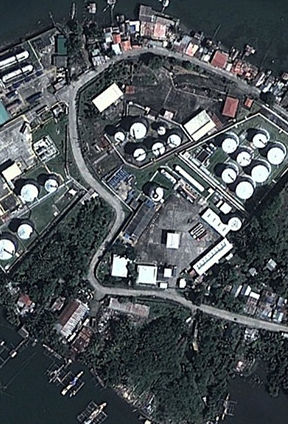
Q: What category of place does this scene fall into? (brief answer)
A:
residential area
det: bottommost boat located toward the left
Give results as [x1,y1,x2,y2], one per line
[76,402,108,424]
